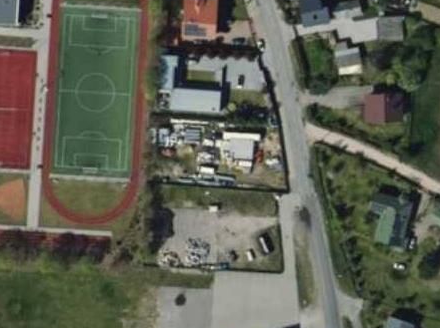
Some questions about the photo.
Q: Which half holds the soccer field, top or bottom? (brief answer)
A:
top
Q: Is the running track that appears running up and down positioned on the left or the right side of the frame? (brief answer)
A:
left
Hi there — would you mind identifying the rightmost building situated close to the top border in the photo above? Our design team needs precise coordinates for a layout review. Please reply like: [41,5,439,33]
[377,16,404,41]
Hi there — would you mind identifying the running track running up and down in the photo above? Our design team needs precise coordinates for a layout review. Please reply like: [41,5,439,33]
[44,0,149,227]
